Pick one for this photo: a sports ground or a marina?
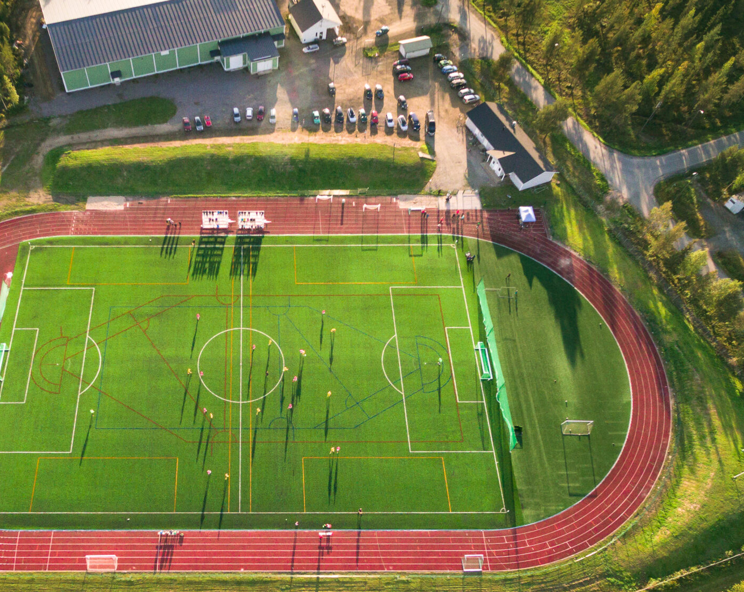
sports ground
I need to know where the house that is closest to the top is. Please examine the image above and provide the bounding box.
[290,0,345,43]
